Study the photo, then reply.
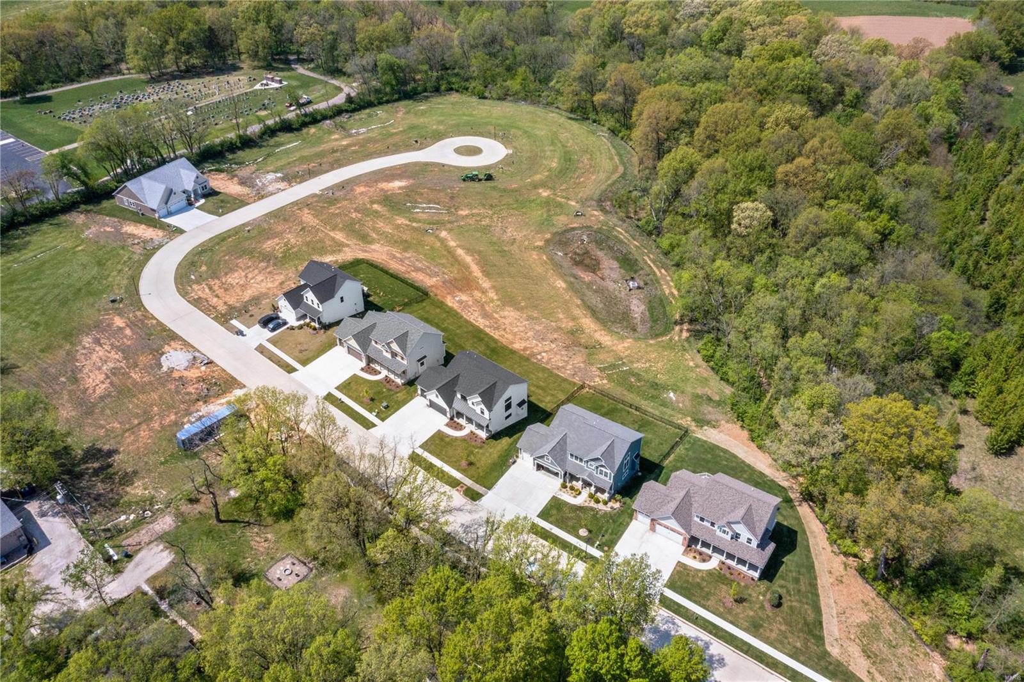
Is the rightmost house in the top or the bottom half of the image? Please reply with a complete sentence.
The rightmost house sits in the bottom half of the picture.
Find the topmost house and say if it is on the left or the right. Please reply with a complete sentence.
The topmost house appears in the left half of the scene.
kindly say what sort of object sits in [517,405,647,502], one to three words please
house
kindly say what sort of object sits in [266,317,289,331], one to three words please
car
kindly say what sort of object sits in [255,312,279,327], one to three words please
car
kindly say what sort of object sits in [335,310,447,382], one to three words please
house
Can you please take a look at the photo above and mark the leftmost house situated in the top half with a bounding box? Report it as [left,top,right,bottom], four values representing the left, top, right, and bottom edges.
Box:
[113,158,213,219]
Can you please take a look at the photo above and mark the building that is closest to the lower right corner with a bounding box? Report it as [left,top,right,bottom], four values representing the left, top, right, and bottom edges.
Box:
[631,468,784,578]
